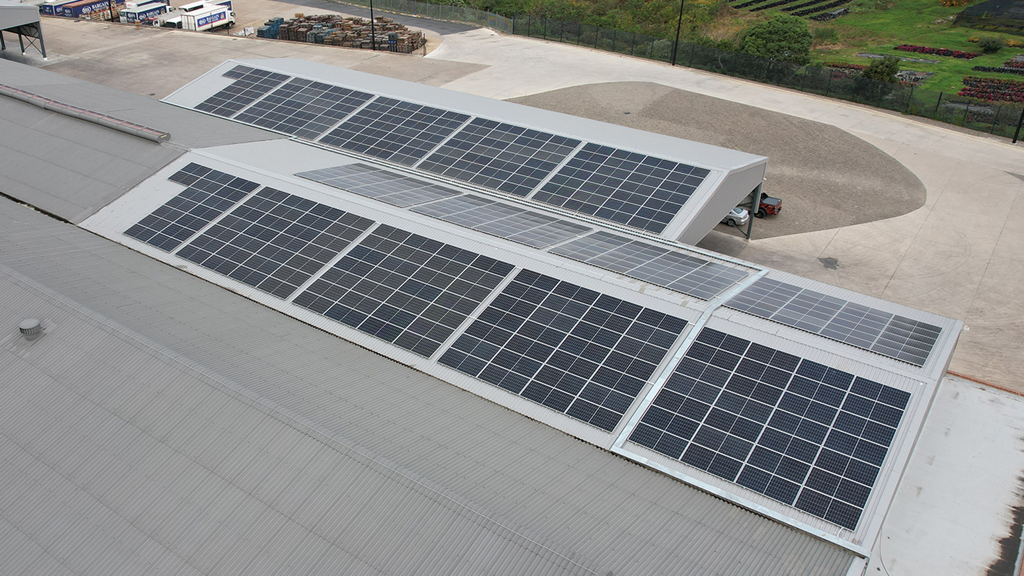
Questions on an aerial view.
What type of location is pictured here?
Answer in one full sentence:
The picture captures an industrial area.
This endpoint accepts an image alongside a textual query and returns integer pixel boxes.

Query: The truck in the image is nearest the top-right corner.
[756,186,785,215]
